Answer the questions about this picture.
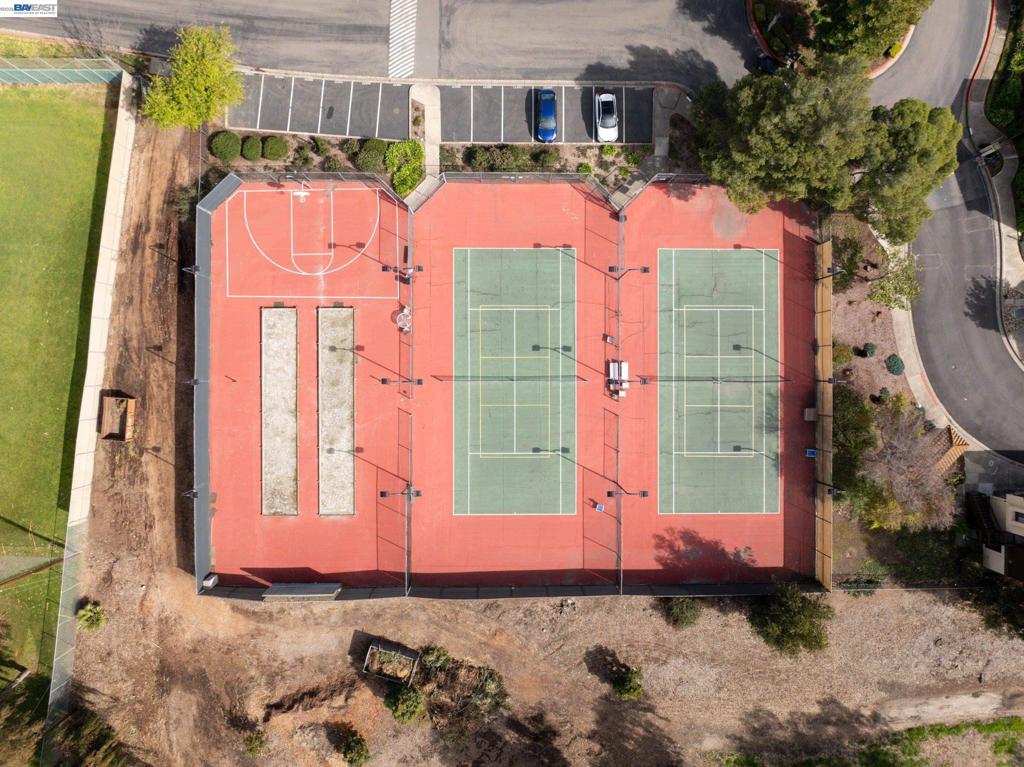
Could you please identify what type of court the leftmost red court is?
basketball court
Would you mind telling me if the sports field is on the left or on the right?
left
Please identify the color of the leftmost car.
blue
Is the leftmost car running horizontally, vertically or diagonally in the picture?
vertically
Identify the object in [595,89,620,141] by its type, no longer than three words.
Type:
car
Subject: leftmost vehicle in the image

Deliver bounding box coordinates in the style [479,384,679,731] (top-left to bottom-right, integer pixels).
[535,88,559,141]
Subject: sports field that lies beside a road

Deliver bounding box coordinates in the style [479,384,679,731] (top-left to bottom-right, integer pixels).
[0,83,137,767]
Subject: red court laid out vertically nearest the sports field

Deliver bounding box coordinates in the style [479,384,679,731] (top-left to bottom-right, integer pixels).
[211,182,411,589]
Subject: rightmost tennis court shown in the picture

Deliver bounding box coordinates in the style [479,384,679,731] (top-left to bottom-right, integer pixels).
[617,183,816,586]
